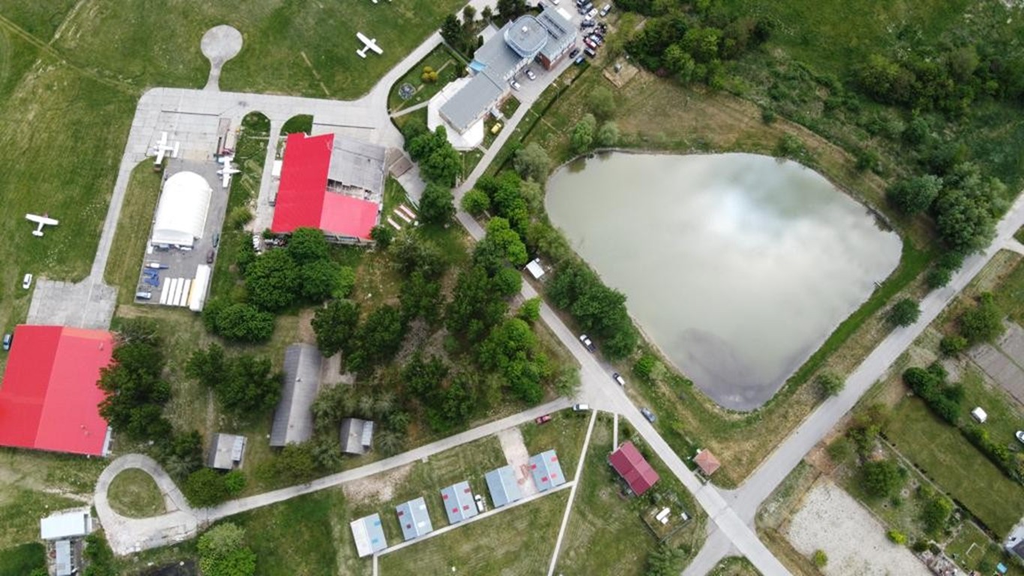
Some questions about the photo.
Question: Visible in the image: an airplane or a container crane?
airplane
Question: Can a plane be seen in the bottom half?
No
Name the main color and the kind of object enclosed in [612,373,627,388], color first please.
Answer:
white car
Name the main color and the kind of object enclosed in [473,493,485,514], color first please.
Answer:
white vehicle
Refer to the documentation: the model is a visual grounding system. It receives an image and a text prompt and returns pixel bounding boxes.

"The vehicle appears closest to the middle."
[579,335,595,353]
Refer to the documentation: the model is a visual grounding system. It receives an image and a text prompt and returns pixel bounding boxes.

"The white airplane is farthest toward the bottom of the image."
[24,214,58,236]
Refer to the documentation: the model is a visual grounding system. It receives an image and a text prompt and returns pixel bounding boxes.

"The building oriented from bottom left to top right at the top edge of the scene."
[439,7,578,137]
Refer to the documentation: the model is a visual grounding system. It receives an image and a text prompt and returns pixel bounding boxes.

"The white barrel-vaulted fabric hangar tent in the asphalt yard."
[150,173,216,250]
